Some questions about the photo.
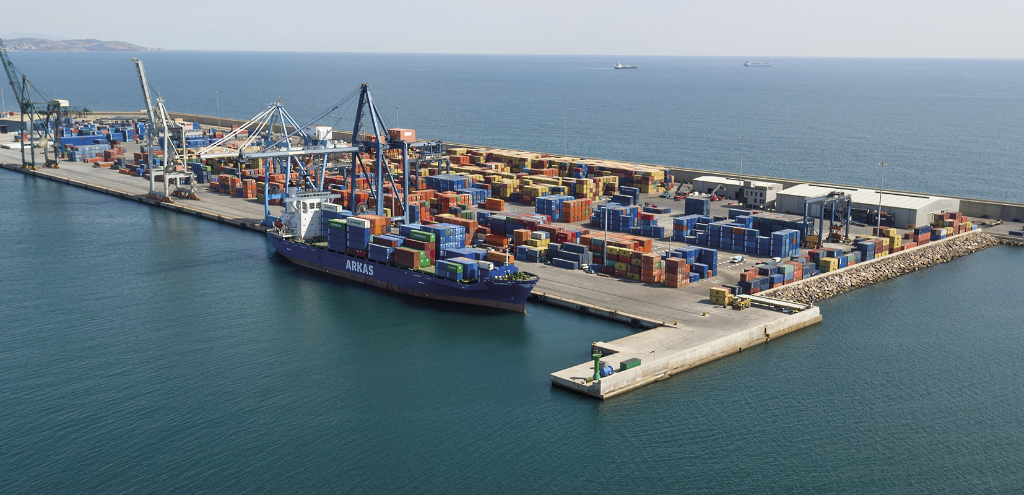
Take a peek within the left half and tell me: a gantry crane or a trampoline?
gantry crane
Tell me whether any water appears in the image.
Yes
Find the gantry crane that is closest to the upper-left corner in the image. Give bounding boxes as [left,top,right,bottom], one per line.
[0,39,93,170]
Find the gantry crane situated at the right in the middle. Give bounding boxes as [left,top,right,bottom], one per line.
[802,191,855,247]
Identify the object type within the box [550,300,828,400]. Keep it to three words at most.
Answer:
pier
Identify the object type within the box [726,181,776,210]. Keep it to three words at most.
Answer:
building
